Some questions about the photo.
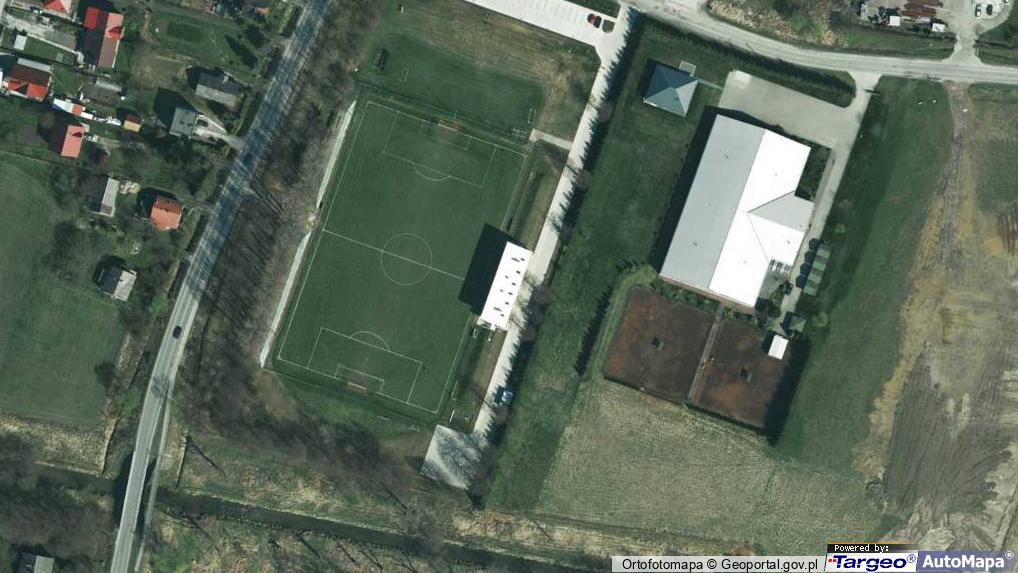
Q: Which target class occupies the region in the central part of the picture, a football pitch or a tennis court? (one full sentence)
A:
The feature located in the central part of the picture is a football pitch.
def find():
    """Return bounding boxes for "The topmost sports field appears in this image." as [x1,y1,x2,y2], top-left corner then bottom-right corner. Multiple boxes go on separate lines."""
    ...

[383,37,544,128]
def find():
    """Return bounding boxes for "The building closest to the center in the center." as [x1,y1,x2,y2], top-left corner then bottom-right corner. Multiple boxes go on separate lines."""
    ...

[478,242,532,346]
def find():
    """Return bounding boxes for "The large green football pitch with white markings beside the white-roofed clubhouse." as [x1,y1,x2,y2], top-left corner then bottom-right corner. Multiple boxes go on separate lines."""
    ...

[269,93,536,422]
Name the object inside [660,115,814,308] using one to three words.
building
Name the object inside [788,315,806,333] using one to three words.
gazebo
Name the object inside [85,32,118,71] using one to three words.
house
